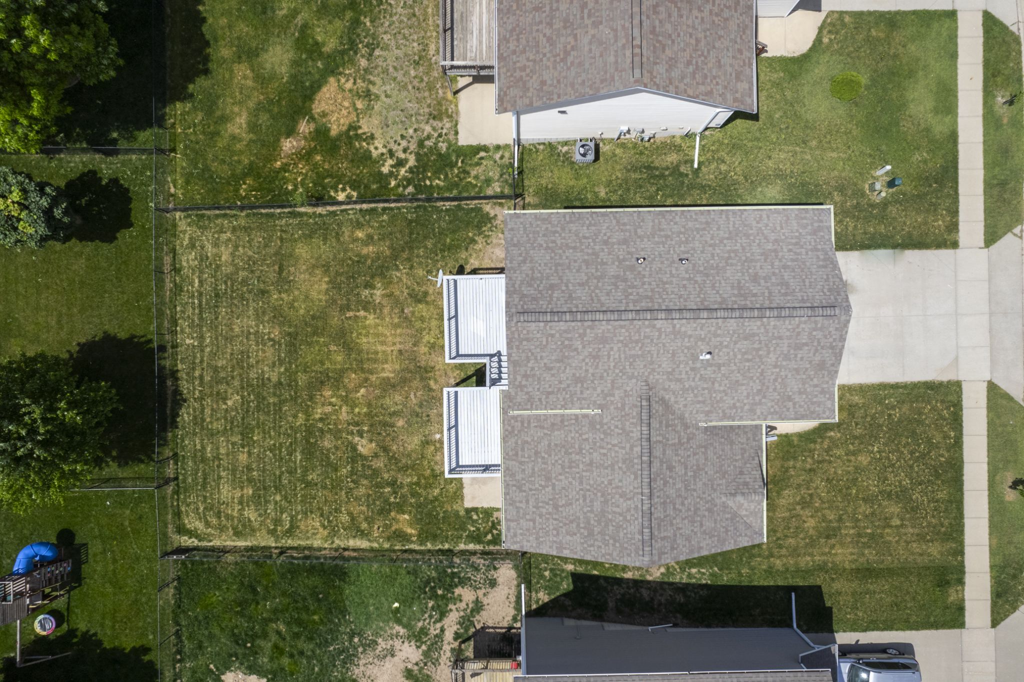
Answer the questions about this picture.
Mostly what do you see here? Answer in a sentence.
For the most part, this view shows grass.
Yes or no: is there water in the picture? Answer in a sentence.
No, there is no water in the image.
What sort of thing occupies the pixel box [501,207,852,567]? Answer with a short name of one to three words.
house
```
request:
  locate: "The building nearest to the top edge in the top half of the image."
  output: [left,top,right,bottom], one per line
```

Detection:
[494,0,799,175]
